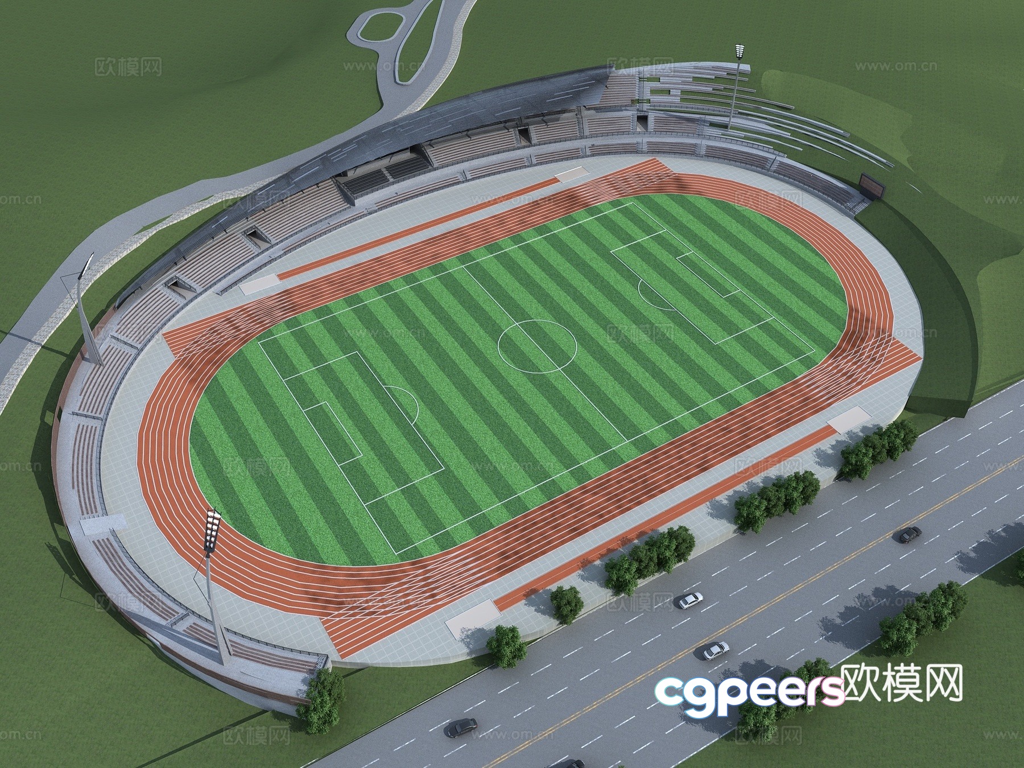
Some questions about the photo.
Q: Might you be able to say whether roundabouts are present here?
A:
No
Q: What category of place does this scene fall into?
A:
sports ground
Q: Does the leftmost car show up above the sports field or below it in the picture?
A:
below it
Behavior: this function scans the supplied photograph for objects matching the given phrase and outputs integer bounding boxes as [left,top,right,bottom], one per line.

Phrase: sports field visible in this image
[190,195,847,566]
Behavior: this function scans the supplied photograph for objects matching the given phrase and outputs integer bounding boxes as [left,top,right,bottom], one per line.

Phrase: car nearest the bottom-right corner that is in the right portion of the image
[900,527,926,545]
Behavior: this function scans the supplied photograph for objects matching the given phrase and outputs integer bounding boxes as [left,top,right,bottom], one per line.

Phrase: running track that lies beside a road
[137,173,893,614]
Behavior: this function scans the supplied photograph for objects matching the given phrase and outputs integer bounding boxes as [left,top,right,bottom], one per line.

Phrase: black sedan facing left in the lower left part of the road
[444,719,477,742]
